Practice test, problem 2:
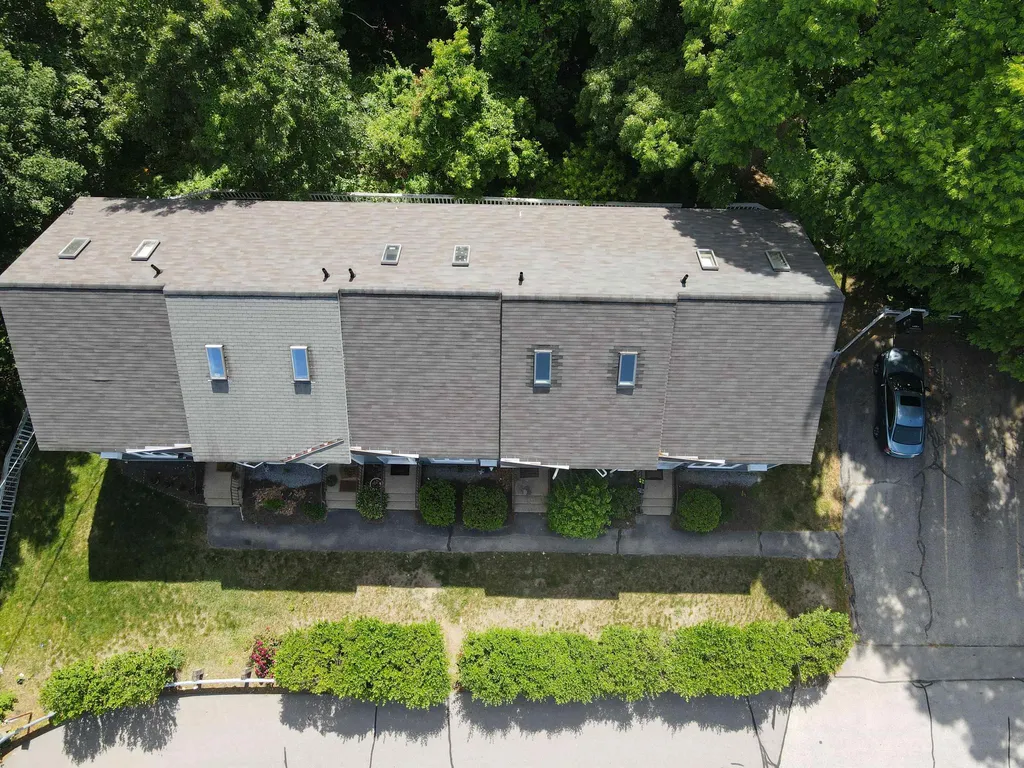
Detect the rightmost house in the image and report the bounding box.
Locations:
[643,197,844,514]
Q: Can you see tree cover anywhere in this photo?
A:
Yes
